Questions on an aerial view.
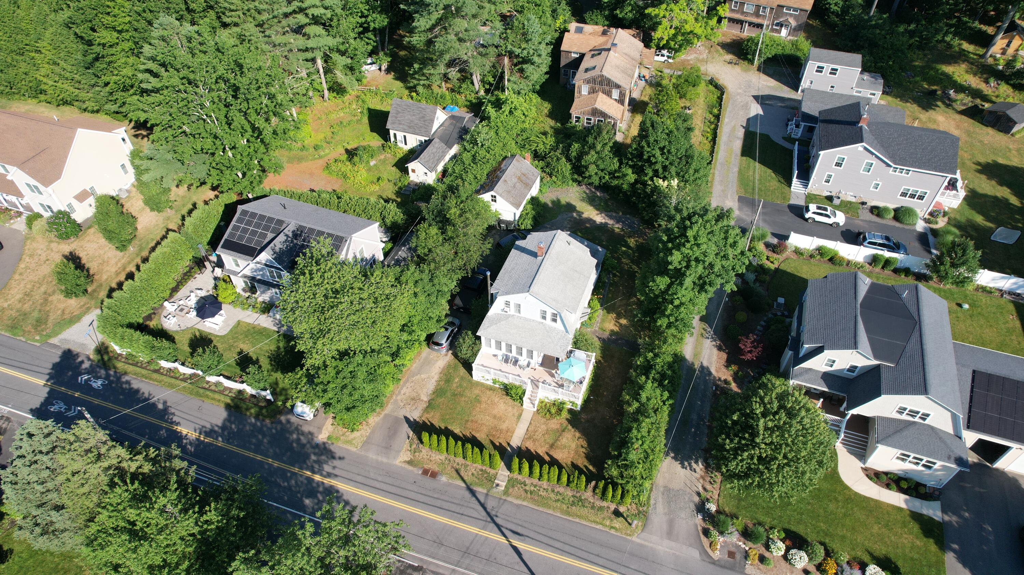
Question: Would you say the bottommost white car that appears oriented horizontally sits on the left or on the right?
right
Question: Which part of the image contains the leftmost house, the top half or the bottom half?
top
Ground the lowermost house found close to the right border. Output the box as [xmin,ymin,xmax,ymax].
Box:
[773,271,1024,488]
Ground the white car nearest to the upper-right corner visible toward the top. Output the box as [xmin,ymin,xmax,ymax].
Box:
[807,199,851,225]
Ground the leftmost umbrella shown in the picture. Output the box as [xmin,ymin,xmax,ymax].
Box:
[194,298,224,325]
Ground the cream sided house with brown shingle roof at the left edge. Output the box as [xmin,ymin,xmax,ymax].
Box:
[0,104,145,226]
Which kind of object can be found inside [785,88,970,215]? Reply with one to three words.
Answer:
house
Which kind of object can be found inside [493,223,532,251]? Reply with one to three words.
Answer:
car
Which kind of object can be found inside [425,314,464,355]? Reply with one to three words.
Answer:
car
